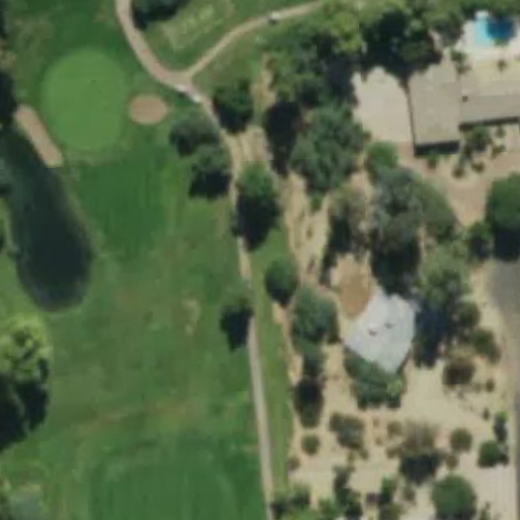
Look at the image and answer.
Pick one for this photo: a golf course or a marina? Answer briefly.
golf course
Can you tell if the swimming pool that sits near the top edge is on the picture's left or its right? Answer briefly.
right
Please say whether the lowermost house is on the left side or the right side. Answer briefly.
right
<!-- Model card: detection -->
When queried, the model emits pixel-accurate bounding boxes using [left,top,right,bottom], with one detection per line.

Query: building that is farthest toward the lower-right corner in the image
[343,286,417,372]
